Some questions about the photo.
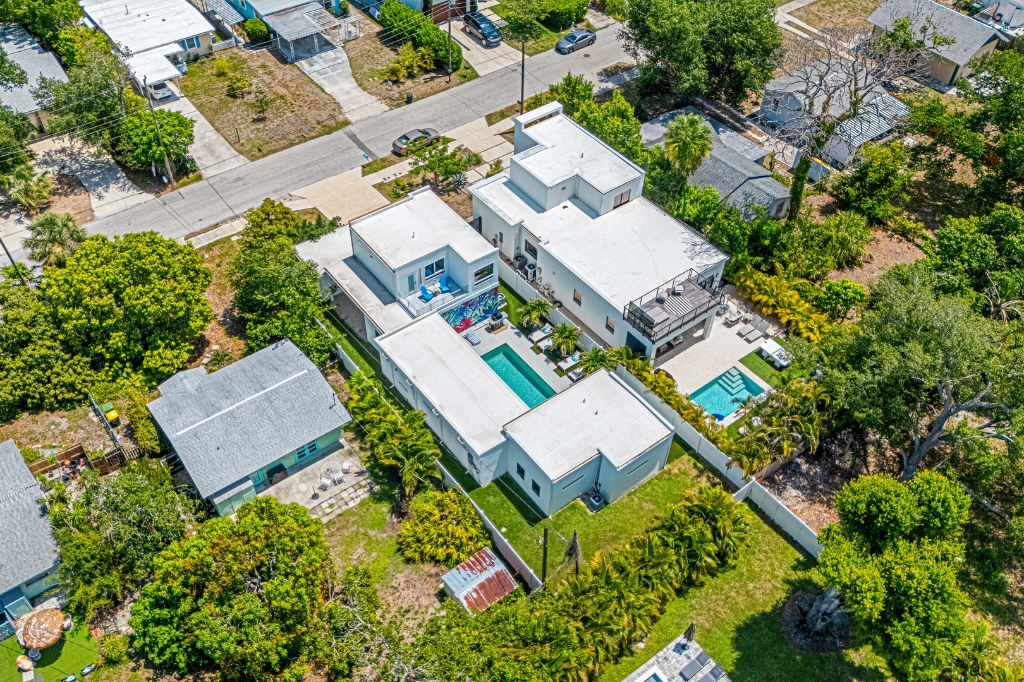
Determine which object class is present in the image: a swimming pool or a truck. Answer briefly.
swimming pool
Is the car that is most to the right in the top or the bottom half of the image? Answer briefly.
top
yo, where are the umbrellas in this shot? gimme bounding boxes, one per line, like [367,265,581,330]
[682,627,695,650]
[18,606,71,654]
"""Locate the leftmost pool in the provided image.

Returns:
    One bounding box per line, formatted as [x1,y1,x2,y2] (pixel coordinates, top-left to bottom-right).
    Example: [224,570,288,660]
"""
[483,345,556,408]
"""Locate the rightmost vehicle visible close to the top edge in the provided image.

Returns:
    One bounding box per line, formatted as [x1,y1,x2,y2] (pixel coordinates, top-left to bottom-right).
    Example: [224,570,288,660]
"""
[557,30,595,52]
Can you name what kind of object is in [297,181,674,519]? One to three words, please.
house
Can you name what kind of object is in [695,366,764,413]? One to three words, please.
swimming pool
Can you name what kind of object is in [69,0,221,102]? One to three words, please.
house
